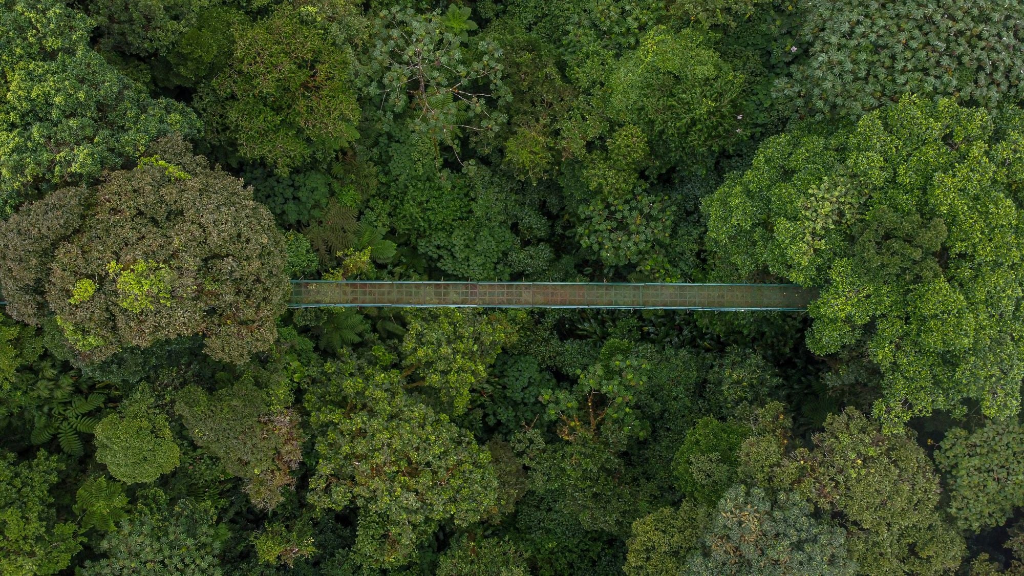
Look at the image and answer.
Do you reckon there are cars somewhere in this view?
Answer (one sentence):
No, there isn't any car down there.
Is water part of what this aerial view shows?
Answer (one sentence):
No, there is no water in the image.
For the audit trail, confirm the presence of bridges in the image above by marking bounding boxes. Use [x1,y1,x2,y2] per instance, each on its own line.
[0,274,1004,317]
